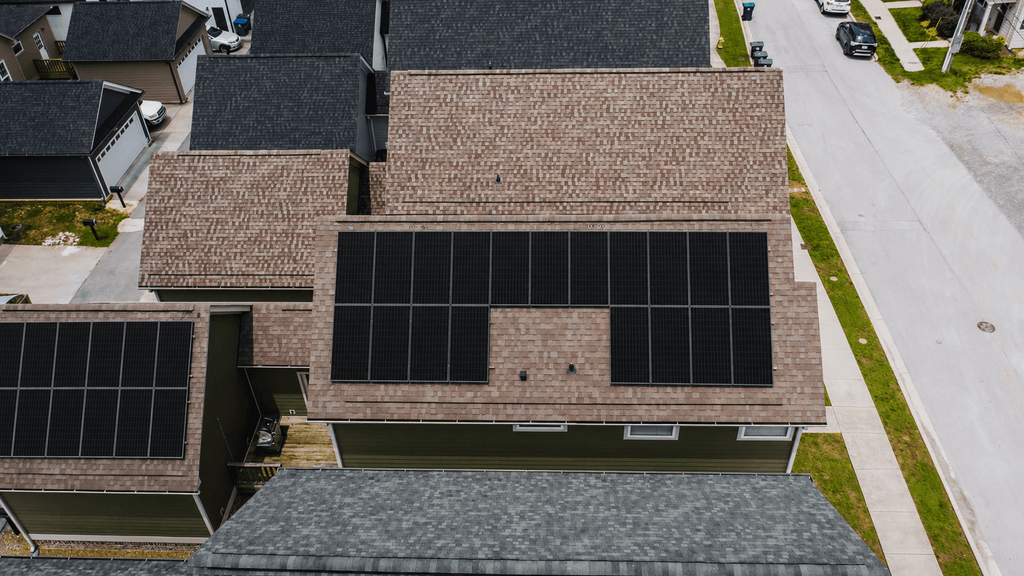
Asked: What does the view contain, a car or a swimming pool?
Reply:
car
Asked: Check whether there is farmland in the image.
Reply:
No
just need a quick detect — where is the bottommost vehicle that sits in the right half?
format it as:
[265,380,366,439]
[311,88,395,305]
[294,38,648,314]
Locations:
[838,19,879,52]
